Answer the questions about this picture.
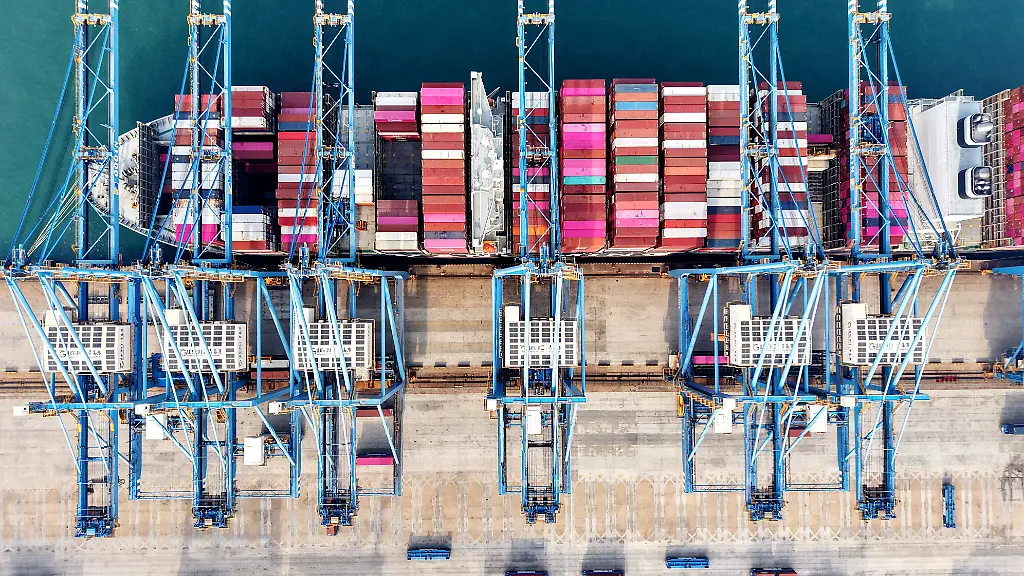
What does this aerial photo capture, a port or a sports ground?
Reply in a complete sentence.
The picture captures a port.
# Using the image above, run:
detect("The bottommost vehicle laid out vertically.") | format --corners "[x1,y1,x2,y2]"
[942,482,955,527]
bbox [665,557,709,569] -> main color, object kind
blue vehicle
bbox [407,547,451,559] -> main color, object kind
blue vehicle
